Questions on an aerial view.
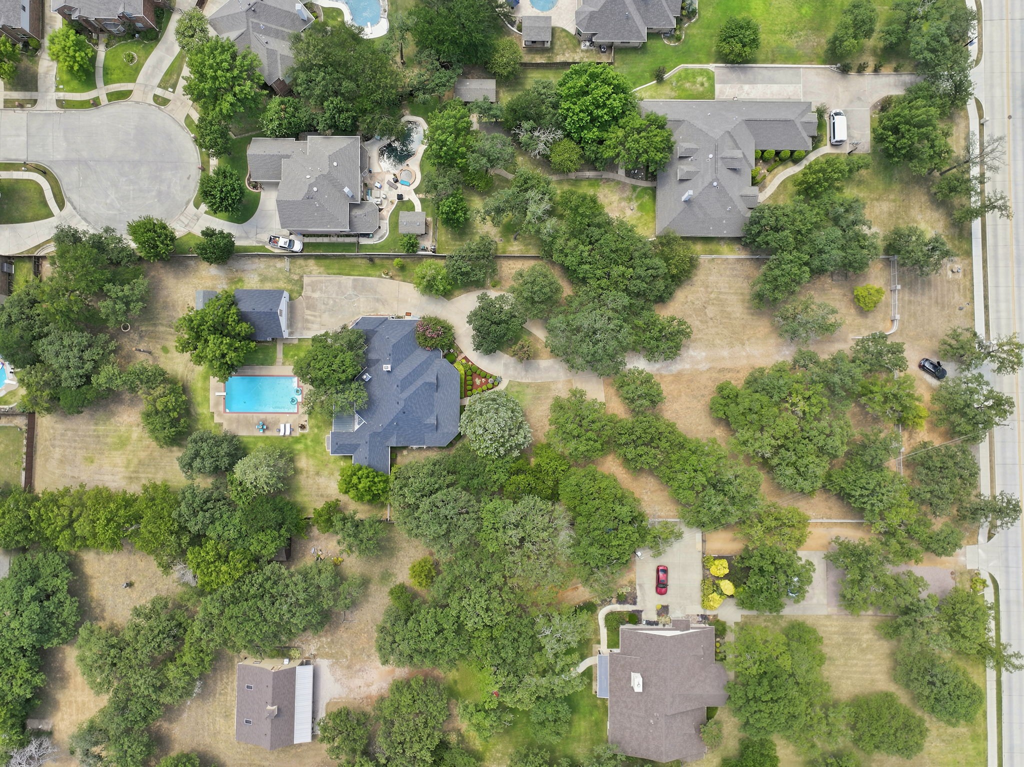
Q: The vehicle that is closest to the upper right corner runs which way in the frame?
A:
from top to bottom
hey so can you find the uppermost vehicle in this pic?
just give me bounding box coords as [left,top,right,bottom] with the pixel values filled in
[829,108,849,147]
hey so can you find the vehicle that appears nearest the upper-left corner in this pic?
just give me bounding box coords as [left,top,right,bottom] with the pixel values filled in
[265,234,305,253]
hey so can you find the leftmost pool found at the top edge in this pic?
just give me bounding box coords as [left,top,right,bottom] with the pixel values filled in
[311,0,389,38]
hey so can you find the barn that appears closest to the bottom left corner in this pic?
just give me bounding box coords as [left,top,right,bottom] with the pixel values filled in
[237,658,318,750]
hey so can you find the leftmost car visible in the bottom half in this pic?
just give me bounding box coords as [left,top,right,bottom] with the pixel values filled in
[654,564,670,595]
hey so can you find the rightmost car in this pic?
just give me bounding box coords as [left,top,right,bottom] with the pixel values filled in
[915,357,949,378]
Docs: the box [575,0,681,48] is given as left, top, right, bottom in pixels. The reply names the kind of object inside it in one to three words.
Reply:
house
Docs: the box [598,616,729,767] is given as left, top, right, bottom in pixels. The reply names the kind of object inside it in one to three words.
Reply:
house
